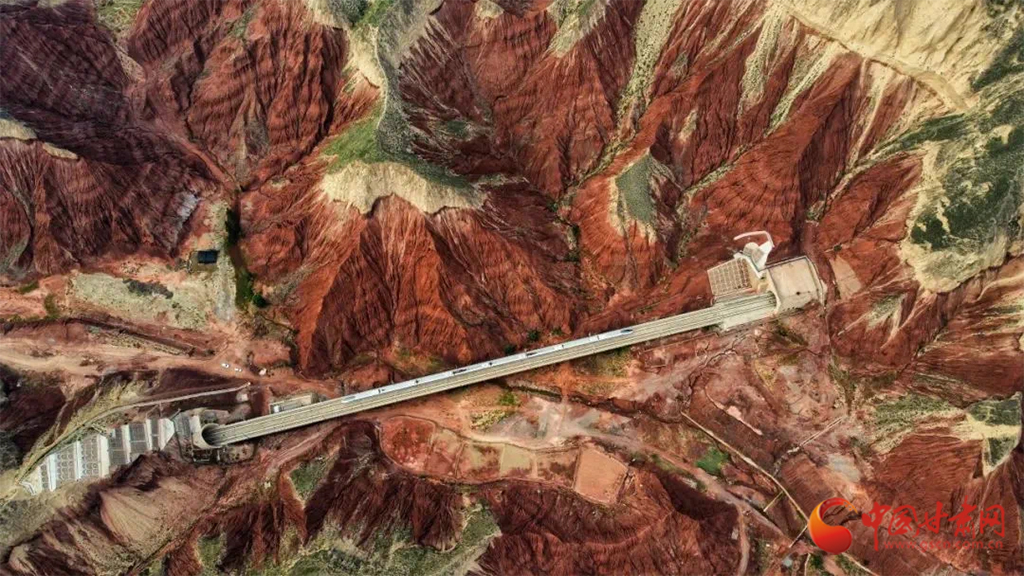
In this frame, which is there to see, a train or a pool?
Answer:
train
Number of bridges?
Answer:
one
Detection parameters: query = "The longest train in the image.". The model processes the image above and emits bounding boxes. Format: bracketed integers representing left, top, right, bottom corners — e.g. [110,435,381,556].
[342,331,635,403]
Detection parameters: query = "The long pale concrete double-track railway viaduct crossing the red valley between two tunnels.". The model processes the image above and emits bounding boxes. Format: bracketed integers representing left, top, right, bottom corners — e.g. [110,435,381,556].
[204,290,779,446]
